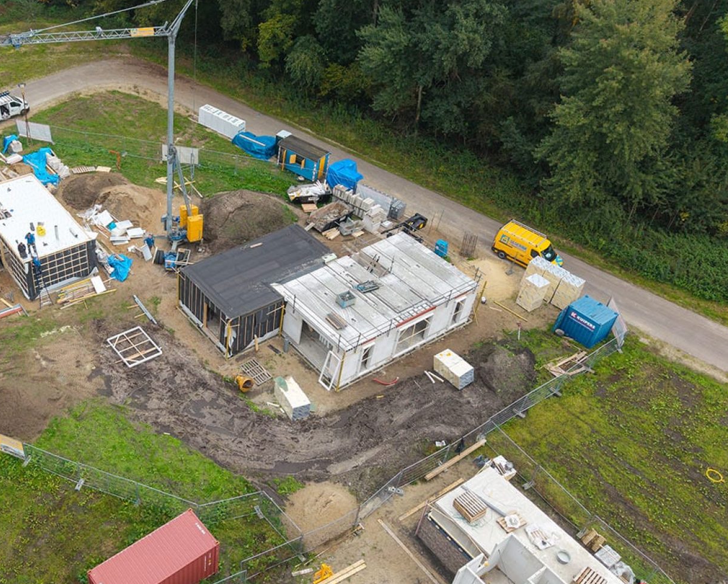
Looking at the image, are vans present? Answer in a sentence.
Yes, I can see a van in this picture.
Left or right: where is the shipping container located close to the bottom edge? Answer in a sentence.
The shipping container located close to the bottom edge appears in the left half of the scene.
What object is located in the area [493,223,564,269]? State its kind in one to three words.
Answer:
van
